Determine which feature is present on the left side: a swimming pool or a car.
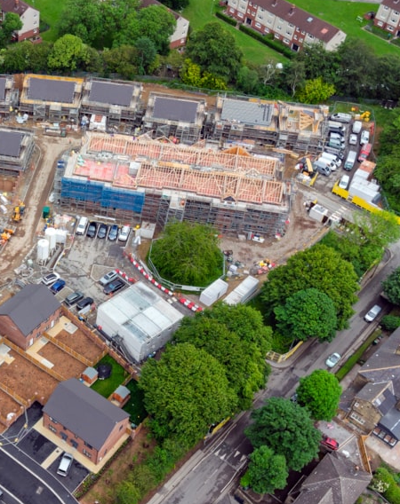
car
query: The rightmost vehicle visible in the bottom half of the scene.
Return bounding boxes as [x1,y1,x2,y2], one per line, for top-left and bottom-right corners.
[363,303,383,323]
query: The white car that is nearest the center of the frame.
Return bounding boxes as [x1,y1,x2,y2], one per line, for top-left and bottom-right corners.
[118,224,131,242]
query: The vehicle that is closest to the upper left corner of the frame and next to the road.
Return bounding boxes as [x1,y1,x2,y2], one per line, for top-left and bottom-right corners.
[11,201,26,227]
